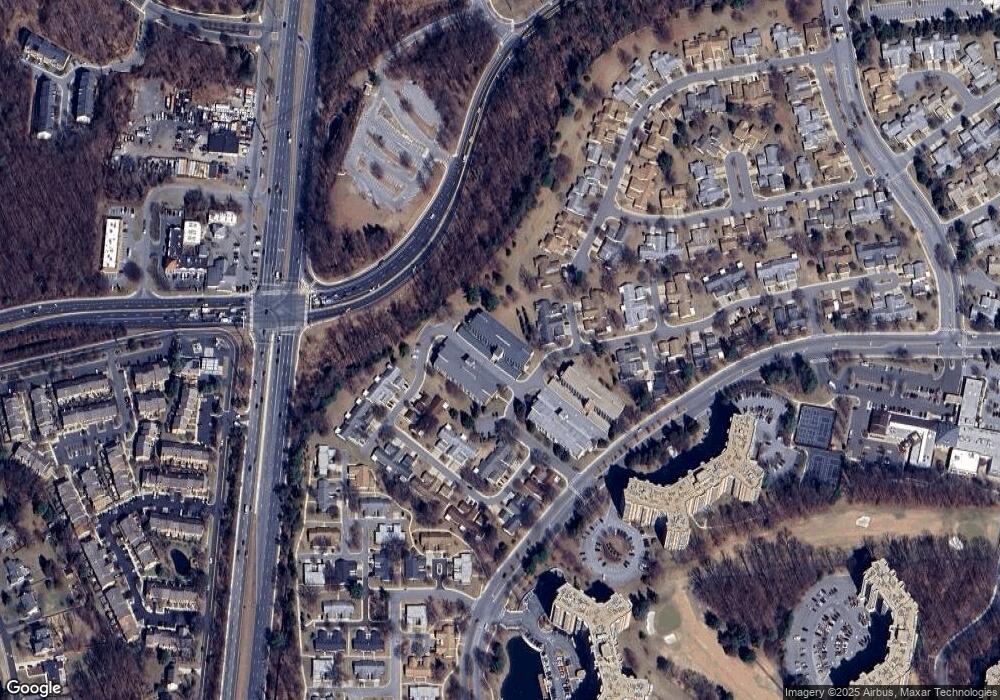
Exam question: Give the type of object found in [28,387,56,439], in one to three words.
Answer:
house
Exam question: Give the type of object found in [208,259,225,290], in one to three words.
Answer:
building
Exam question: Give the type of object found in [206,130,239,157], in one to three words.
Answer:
shed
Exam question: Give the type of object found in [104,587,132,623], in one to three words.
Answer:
house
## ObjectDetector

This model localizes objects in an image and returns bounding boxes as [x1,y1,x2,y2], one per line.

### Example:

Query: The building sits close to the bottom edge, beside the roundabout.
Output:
[555,581,653,700]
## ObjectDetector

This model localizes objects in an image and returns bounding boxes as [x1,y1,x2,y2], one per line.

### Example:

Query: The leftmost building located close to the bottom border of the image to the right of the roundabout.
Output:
[842,557,920,700]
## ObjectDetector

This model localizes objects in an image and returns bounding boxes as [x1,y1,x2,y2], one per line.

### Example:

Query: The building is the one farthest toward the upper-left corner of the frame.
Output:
[24,34,70,72]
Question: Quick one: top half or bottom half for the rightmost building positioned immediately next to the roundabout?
bottom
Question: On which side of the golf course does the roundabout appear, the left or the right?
on its left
